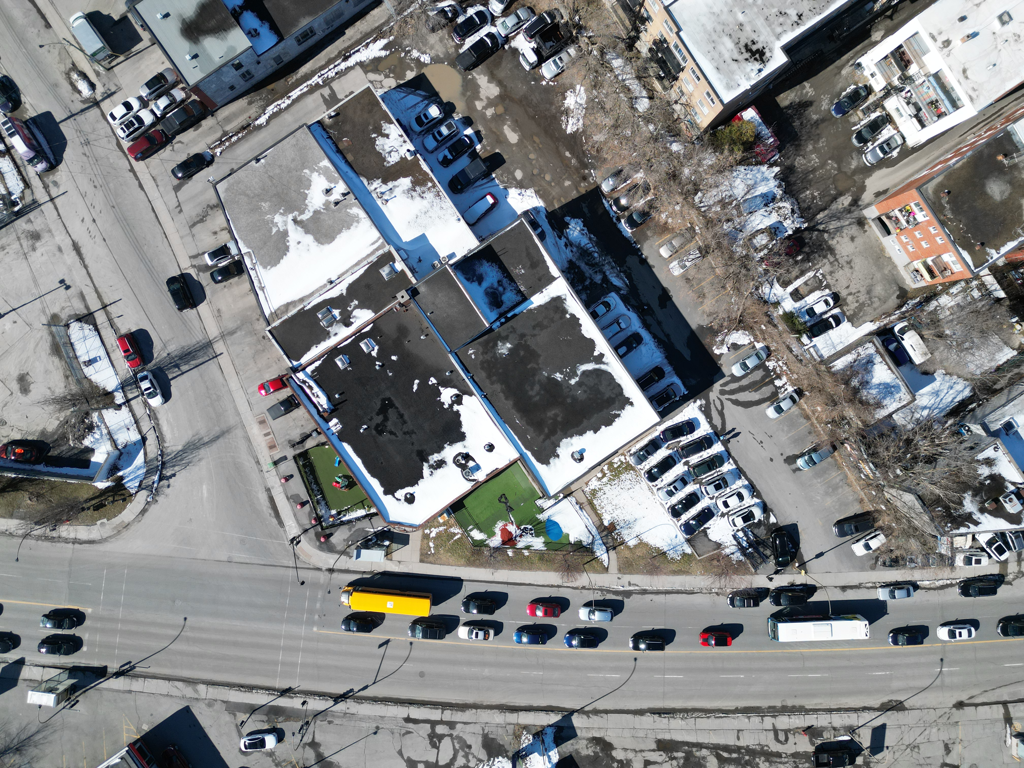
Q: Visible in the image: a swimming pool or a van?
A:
van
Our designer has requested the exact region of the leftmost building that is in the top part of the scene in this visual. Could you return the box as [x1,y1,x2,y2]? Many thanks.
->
[130,0,273,111]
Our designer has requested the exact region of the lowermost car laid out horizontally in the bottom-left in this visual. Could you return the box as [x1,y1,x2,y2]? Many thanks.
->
[238,731,278,753]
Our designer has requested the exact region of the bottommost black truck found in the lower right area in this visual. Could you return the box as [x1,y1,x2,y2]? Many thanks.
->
[811,746,856,768]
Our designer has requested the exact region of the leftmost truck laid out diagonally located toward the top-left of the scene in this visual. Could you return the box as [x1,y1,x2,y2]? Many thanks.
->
[0,116,60,172]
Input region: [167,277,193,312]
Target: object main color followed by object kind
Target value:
black car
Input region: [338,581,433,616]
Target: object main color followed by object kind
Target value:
yellow bus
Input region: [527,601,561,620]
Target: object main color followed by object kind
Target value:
red car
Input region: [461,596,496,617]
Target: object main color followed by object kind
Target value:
black car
